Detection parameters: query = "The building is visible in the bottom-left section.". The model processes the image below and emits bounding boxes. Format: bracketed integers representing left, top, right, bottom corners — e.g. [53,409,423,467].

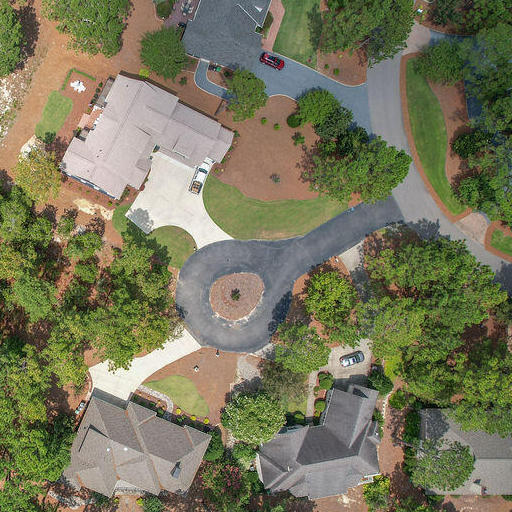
[65,397,212,497]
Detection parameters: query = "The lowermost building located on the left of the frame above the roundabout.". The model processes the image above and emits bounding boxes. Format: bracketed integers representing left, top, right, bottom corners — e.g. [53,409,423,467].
[61,74,234,201]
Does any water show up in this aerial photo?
No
